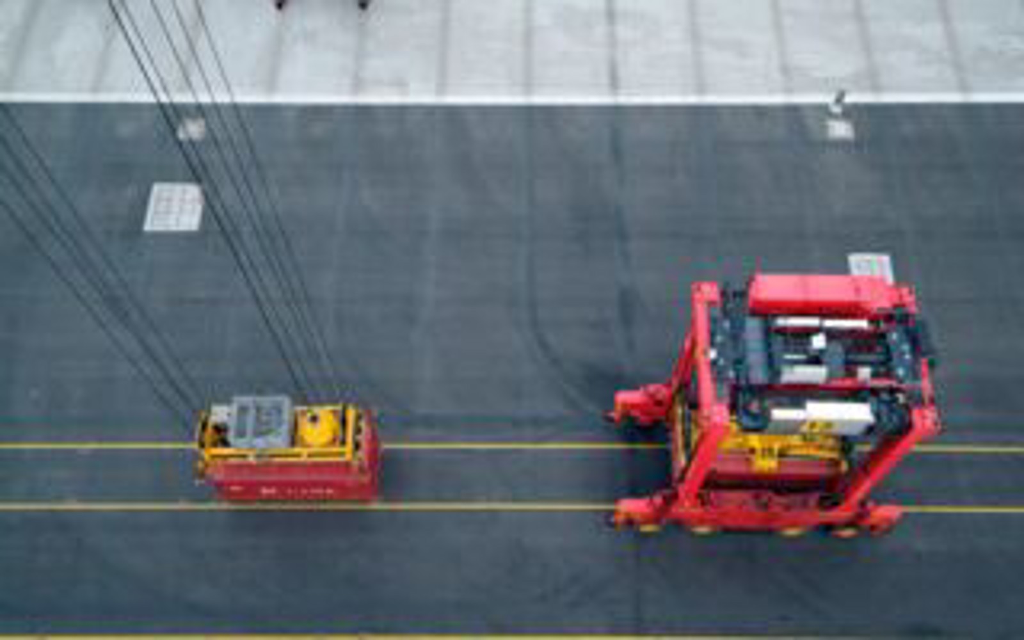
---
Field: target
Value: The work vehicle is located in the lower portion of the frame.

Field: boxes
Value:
[598,267,952,536]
